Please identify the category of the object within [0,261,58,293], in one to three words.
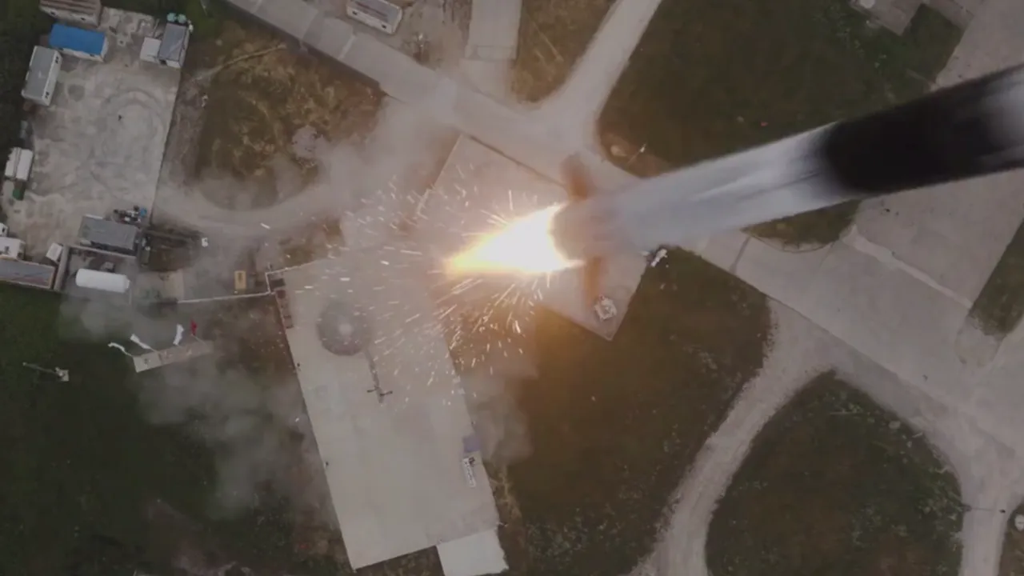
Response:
shed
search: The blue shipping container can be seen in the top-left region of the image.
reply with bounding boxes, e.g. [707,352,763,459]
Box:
[49,24,109,64]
